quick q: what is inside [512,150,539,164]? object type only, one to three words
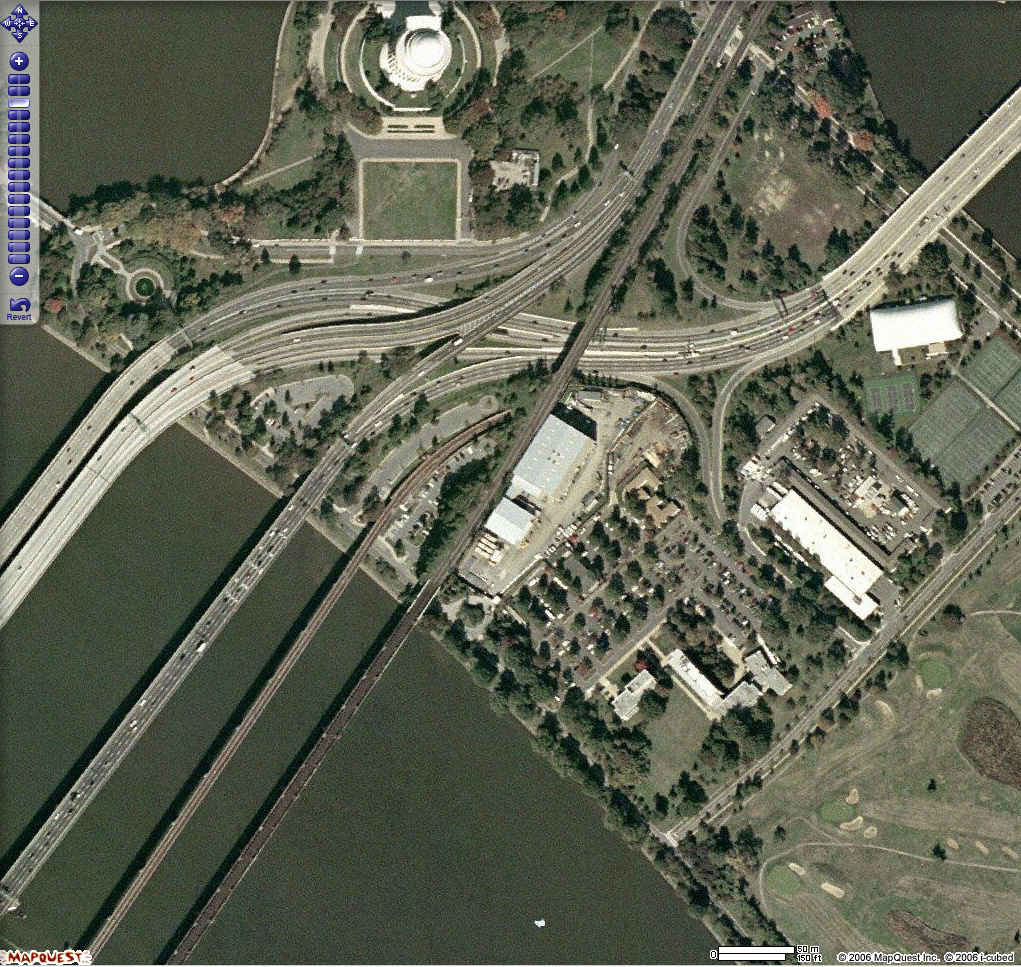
building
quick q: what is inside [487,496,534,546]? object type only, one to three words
shed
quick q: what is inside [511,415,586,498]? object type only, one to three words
shed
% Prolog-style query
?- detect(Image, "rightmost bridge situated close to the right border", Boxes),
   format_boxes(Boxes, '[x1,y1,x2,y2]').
[822,88,1021,330]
